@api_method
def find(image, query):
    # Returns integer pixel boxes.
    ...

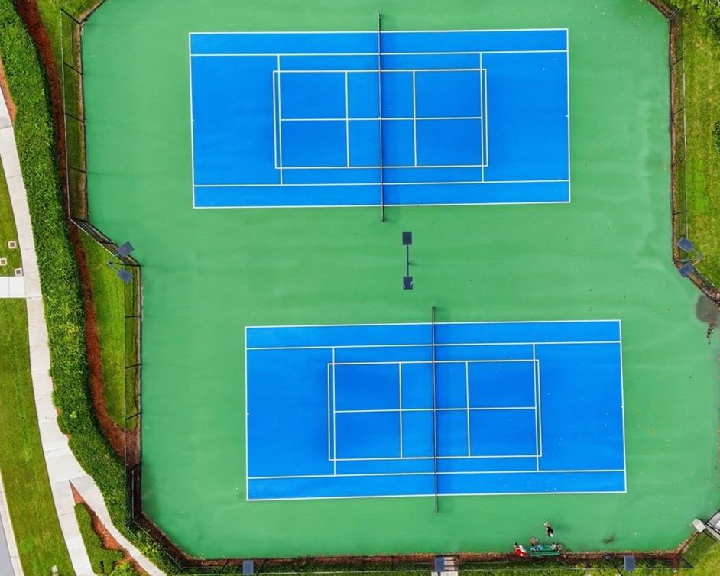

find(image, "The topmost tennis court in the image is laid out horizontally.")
[189,26,570,208]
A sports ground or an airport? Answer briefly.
sports ground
